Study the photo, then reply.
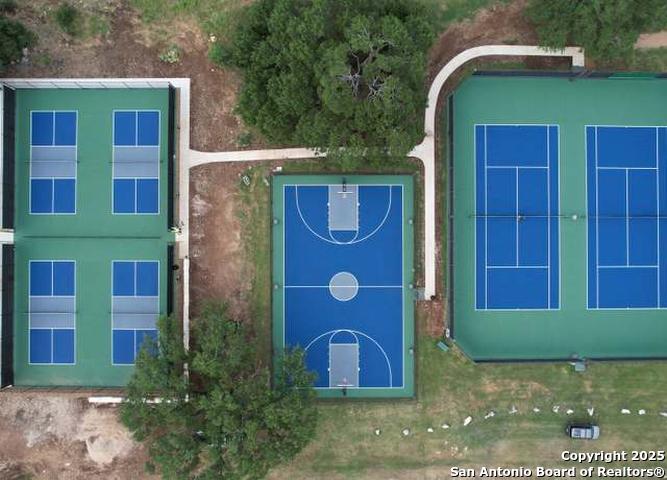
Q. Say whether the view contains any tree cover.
Yes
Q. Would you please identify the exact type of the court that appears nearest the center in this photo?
basketball court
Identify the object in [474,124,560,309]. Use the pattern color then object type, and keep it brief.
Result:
blue tennis court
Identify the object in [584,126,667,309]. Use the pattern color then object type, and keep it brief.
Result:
blue tennis court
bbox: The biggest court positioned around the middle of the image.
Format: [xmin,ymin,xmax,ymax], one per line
[272,174,415,398]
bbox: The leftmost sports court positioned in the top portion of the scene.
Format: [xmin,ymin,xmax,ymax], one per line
[29,111,77,214]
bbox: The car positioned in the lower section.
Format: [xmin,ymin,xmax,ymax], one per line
[565,422,599,440]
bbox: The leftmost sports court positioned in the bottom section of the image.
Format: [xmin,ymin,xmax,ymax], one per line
[29,261,76,365]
